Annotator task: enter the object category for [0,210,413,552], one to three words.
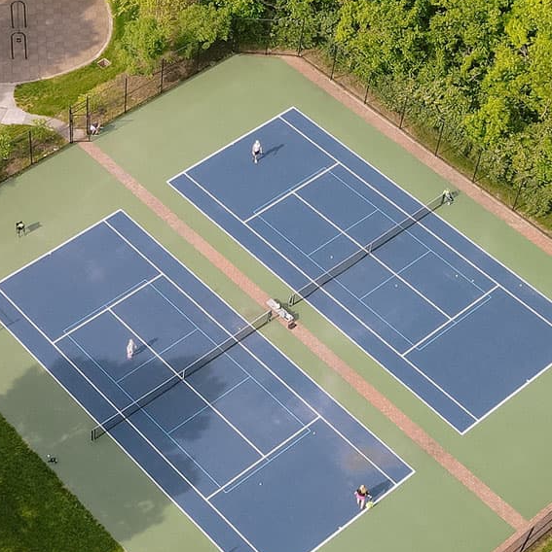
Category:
tennis court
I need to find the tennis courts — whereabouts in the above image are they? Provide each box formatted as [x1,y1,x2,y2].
[169,107,552,433]
[0,210,413,552]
